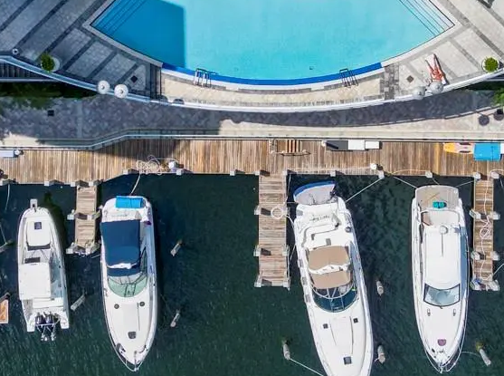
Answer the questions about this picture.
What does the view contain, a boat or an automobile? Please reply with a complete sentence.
Of the two, only a boat appears.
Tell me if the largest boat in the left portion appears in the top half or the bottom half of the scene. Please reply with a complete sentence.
The bottom half of the photo is where the largest boat in the left portion is.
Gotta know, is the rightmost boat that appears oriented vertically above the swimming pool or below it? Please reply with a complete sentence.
In the image, the rightmost boat that appears oriented vertically sits below the swimming pool.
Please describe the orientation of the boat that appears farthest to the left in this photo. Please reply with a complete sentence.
The boat that appears farthest to the left is oriented vertically.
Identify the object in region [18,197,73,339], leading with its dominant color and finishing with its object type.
white boat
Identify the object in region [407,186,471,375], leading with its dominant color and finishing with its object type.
white boat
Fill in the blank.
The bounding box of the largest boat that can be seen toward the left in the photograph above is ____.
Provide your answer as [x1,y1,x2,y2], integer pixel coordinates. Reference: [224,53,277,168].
[100,195,163,374]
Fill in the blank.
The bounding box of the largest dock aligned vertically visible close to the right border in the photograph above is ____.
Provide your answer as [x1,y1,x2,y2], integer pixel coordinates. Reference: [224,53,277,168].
[465,177,502,291]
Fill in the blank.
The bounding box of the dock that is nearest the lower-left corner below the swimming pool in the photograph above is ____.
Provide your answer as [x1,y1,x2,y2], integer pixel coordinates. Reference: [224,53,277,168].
[66,184,104,255]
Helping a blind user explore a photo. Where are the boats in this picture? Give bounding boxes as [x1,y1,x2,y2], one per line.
[407,186,471,375]
[292,195,378,376]
[18,197,73,339]
[291,180,337,204]
[100,195,163,374]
